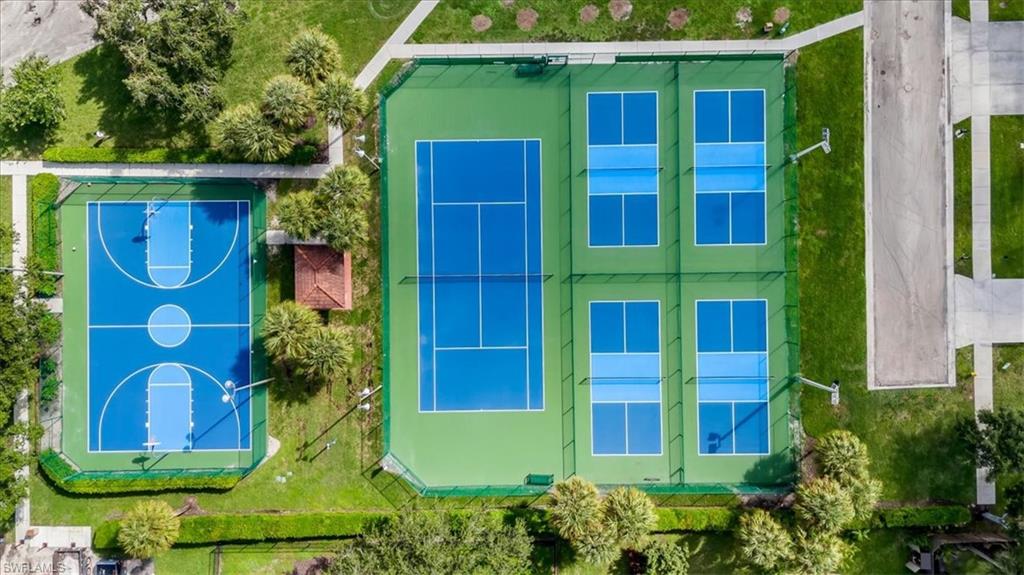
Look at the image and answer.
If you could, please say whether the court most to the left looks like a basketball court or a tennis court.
basketball court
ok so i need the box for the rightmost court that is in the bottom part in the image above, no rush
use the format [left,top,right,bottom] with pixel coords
[679,272,787,489]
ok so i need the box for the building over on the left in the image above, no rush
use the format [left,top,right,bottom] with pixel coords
[294,245,350,310]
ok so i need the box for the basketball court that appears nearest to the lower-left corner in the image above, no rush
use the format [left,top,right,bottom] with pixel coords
[60,180,268,472]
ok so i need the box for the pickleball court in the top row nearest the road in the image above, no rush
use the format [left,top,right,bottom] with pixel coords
[677,63,786,272]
